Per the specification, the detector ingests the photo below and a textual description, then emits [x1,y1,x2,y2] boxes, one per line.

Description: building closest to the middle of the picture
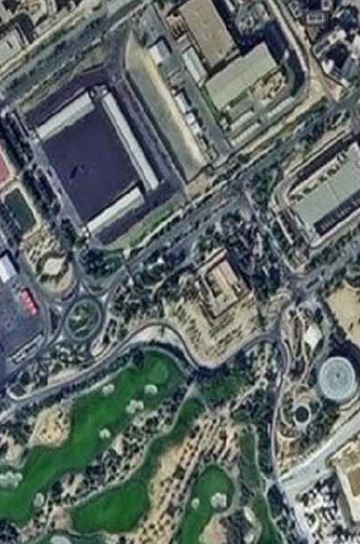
[198,250,249,315]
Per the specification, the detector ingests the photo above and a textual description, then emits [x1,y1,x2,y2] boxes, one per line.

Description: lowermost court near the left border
[2,186,38,233]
